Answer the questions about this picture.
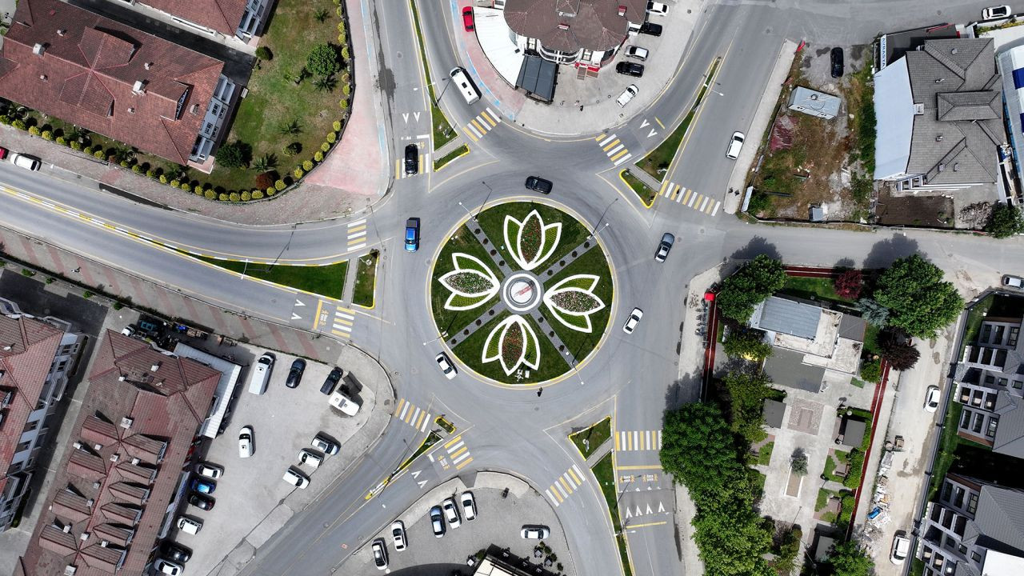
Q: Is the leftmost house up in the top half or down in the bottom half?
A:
bottom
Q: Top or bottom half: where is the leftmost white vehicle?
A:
top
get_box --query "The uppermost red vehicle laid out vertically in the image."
[461,6,474,32]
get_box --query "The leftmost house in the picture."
[0,294,92,503]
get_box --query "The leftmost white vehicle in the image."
[7,151,44,172]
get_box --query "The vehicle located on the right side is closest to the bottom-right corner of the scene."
[888,531,908,566]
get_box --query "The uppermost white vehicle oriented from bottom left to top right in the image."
[616,82,639,109]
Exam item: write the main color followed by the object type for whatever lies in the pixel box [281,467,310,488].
white vehicle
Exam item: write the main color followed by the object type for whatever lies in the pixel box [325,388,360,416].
white trailer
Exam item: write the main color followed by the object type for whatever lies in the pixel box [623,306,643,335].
white car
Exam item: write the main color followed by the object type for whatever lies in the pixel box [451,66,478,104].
white vehicle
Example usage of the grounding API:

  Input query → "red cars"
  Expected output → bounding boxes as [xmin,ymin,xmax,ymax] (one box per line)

[0,148,6,161]
[461,6,474,32]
